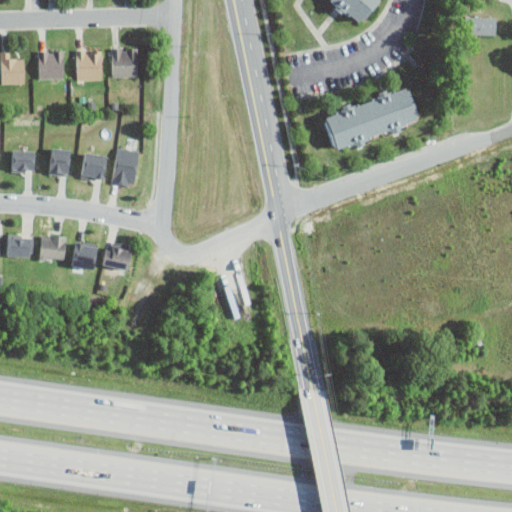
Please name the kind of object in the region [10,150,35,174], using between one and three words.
house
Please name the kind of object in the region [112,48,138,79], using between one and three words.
house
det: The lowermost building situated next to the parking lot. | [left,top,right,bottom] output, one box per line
[323,88,418,150]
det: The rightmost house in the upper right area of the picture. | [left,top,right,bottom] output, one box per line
[474,16,498,36]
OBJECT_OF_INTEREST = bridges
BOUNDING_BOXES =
[300,394,350,512]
